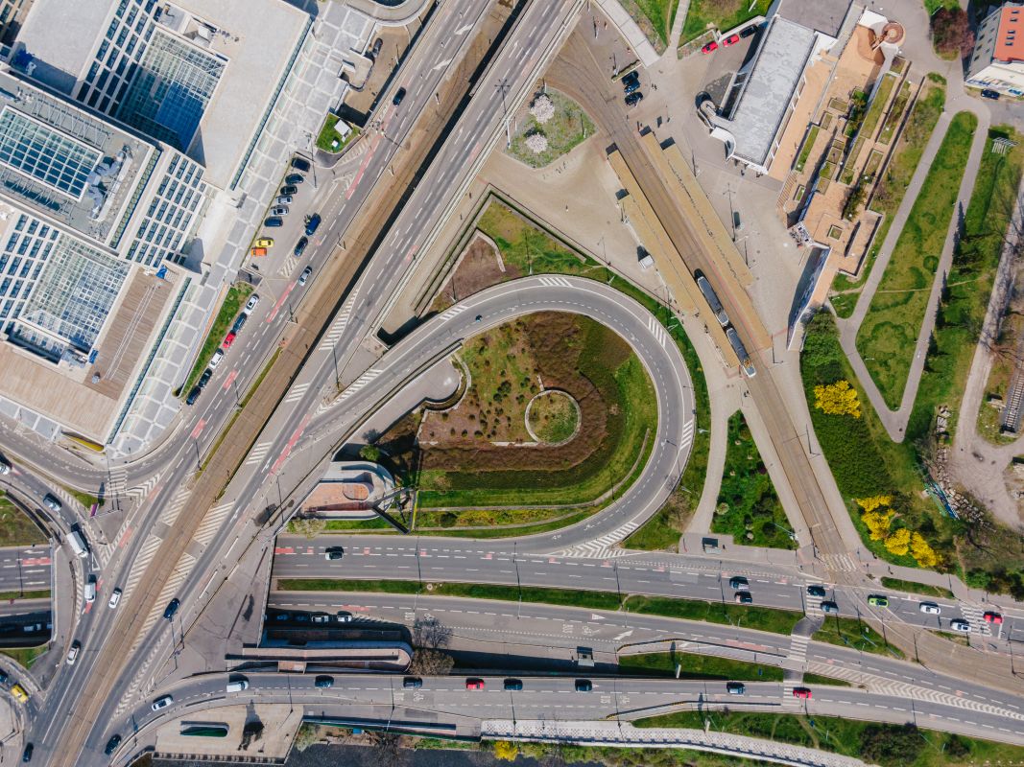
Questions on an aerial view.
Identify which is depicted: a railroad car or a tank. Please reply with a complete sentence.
I can see a railroad car in this picture.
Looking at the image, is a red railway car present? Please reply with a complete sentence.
No, I can't see a single red railway car in this photo.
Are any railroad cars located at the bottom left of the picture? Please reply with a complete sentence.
No, looking at the bottom left of the picture, there is no railroad car.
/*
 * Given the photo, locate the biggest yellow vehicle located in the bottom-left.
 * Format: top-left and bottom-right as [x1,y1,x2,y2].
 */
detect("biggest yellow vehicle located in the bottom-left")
[10,684,29,703]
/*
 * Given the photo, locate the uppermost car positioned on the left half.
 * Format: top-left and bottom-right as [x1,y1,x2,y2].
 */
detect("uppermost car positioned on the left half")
[371,37,383,57]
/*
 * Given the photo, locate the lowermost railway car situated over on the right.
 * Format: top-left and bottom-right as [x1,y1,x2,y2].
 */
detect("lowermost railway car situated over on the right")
[722,327,757,378]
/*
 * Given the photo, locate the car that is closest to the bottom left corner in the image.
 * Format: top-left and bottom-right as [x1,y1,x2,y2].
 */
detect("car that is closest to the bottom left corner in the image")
[23,743,35,763]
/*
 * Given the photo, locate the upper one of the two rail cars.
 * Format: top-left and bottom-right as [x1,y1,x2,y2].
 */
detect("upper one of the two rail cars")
[693,275,729,327]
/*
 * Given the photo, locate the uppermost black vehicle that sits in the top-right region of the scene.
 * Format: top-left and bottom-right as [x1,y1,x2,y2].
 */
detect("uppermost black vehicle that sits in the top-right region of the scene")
[738,24,758,38]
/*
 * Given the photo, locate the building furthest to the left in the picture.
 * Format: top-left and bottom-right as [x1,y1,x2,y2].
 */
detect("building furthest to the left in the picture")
[0,0,324,447]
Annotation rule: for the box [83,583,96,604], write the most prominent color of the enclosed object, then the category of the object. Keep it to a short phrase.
white vehicle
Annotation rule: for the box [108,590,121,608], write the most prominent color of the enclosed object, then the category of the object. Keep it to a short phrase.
white vehicle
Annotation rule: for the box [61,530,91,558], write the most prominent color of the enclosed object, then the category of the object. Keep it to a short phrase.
white truck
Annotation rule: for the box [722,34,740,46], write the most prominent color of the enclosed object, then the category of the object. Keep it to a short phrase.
red vehicle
